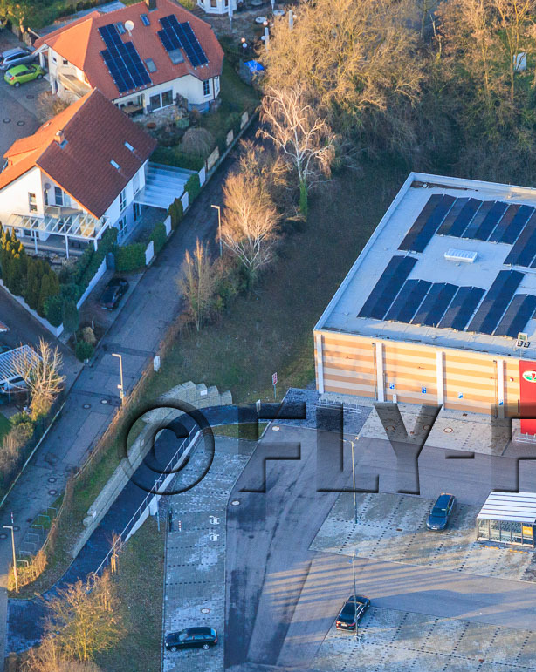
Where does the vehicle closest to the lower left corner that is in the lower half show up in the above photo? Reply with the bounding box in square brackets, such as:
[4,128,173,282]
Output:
[160,625,222,653]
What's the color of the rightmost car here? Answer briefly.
blue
